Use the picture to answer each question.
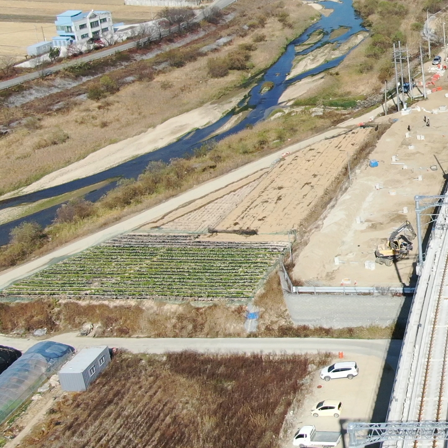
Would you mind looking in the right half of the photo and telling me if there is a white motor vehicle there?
Yes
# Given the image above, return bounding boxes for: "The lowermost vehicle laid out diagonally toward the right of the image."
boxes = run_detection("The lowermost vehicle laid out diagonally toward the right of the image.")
[372,219,432,265]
